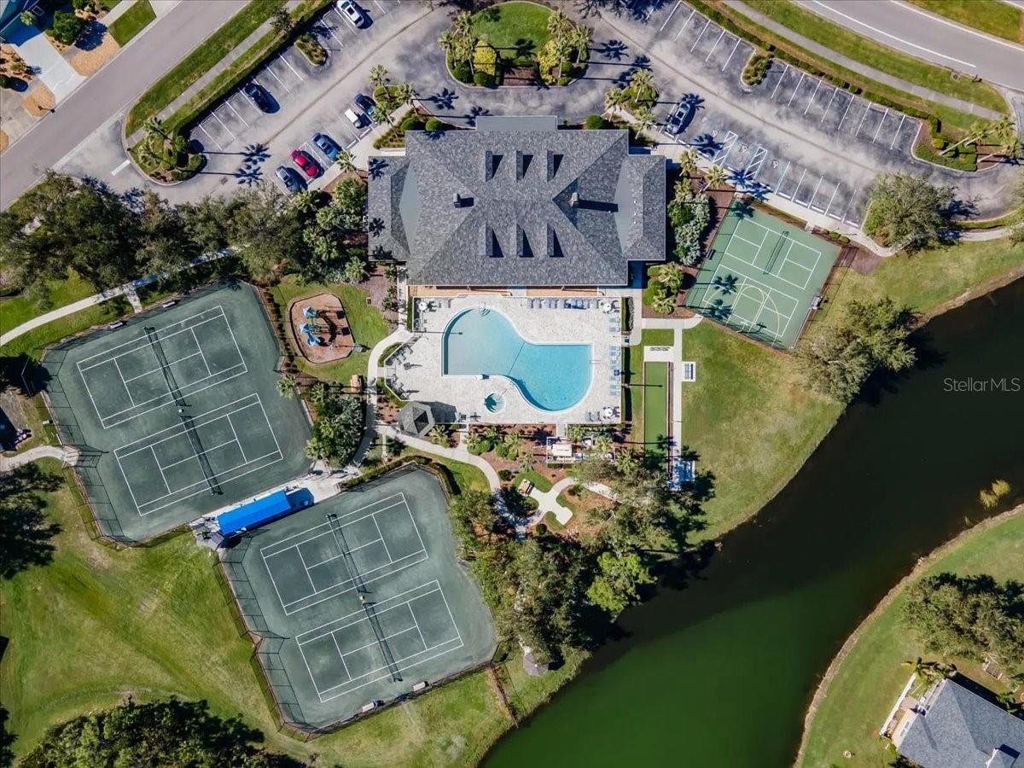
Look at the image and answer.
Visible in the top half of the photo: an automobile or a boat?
automobile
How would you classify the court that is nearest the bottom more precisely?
tennis court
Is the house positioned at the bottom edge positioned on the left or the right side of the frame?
right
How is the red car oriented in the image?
on a diagonal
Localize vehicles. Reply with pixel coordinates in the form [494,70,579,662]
[242,81,271,112]
[290,148,318,178]
[669,101,692,134]
[334,0,363,29]
[312,131,339,161]
[343,107,360,126]
[275,163,304,193]
[350,90,378,120]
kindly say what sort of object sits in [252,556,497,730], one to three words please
tennis court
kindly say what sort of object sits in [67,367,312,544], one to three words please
tennis court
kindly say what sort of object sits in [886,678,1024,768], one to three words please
house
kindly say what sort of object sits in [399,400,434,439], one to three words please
gazebo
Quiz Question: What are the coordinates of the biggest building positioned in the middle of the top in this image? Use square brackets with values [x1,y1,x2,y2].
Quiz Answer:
[368,116,666,287]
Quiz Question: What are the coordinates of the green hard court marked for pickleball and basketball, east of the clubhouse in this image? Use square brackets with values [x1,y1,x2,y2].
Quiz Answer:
[686,200,841,348]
